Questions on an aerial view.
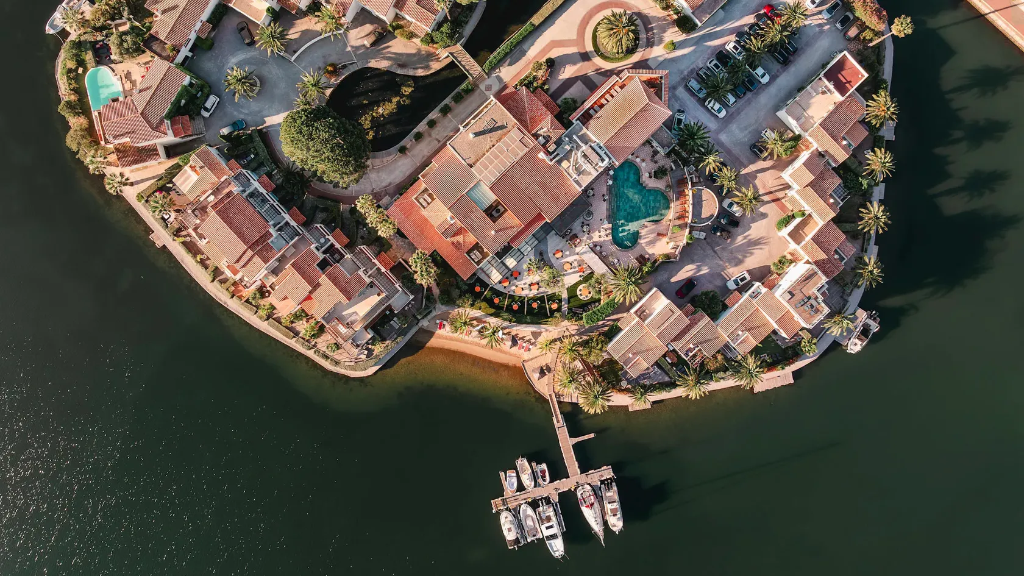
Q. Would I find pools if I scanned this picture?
Yes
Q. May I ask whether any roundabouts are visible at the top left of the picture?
No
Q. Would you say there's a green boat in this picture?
No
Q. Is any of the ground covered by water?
Yes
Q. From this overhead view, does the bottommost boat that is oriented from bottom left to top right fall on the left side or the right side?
right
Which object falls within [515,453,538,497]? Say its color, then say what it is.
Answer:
white boat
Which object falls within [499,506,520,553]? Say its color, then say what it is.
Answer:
white boat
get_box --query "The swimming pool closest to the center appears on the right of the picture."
[609,159,672,252]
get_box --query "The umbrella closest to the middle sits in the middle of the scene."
[505,333,521,349]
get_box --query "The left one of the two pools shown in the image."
[84,66,124,111]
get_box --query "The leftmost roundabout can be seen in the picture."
[577,1,655,78]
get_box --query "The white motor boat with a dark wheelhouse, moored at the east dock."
[846,309,881,352]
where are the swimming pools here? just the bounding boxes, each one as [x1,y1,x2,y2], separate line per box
[84,66,124,111]
[609,159,672,252]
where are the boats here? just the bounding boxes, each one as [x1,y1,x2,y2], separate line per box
[535,458,550,491]
[49,0,73,36]
[518,501,541,544]
[601,479,622,530]
[573,472,601,538]
[536,498,563,558]
[515,453,538,497]
[846,309,881,352]
[499,506,520,553]
[505,467,518,498]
